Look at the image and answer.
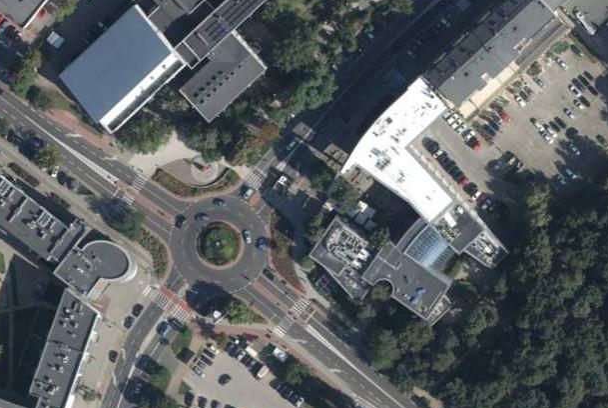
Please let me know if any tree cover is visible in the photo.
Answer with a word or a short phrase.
Yes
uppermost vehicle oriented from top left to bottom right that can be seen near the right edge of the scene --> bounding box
[575,9,599,37]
